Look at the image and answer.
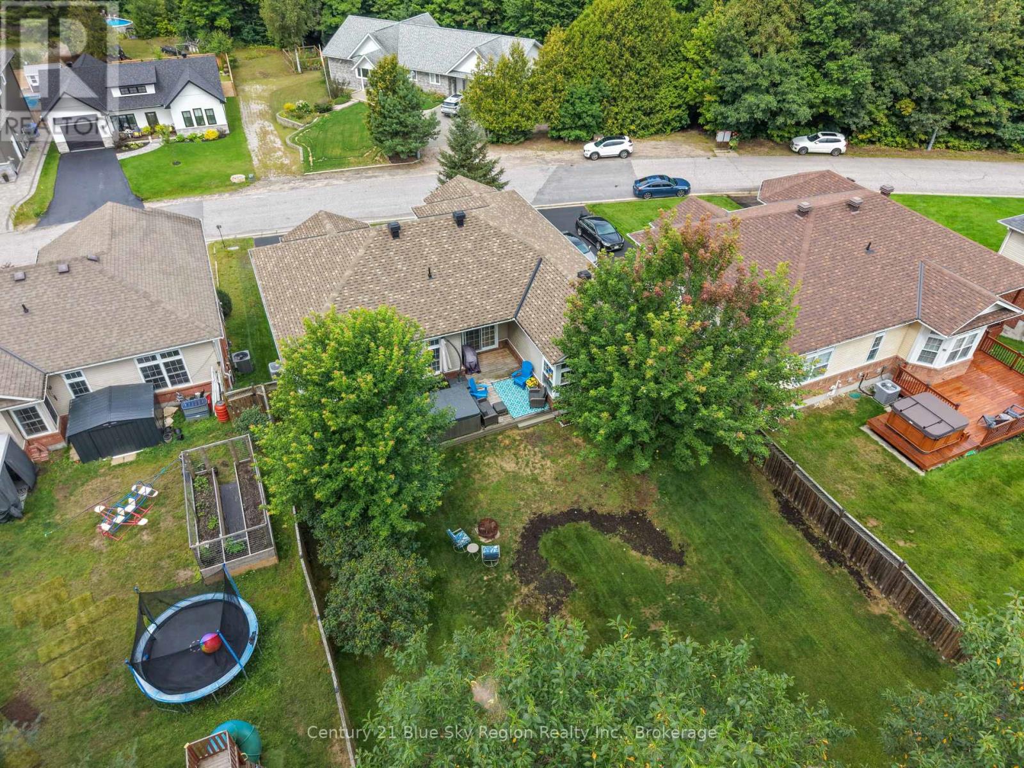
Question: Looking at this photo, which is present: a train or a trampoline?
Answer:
trampoline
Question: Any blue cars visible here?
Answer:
Yes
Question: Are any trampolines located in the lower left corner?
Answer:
Yes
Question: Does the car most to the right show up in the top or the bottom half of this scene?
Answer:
top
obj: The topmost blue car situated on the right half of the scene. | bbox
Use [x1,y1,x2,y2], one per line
[630,172,692,196]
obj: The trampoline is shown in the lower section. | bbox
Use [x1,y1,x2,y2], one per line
[134,575,263,714]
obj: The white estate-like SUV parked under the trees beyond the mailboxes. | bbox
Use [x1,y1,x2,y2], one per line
[791,132,849,156]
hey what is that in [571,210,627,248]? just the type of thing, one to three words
car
